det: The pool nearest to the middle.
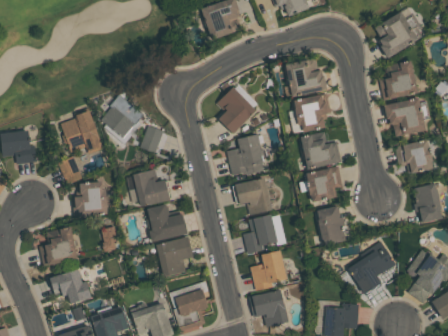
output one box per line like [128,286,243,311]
[266,126,280,146]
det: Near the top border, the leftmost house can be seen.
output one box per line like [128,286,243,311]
[203,0,240,38]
